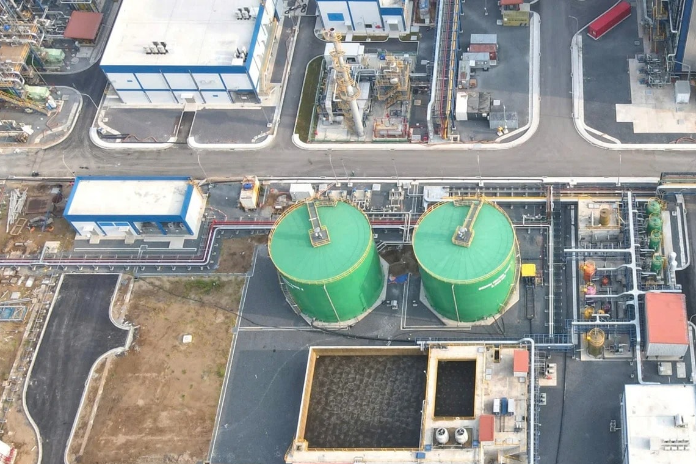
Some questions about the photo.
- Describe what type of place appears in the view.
industrial area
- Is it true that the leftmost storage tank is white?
No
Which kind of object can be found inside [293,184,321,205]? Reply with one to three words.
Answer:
building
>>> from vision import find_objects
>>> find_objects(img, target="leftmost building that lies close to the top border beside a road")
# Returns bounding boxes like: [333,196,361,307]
[101,0,284,107]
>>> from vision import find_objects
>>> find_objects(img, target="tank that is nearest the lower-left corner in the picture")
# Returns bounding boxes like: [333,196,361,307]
[264,192,390,327]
